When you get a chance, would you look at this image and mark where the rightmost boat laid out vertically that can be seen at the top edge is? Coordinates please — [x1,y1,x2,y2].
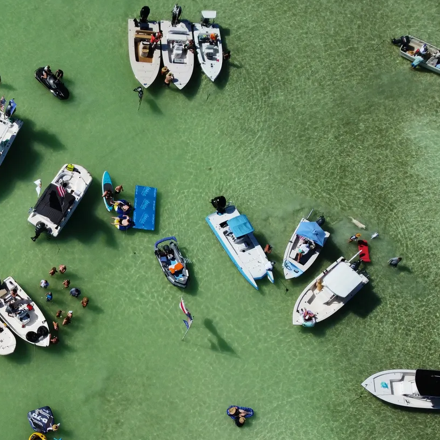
[195,10,222,82]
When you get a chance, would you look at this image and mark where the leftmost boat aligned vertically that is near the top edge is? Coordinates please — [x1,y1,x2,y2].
[129,5,160,88]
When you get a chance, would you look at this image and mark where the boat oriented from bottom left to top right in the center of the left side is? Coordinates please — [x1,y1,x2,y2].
[29,165,90,239]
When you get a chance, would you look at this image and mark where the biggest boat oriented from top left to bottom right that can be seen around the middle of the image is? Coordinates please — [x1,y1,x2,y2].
[205,194,283,291]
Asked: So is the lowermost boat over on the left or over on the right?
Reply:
right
